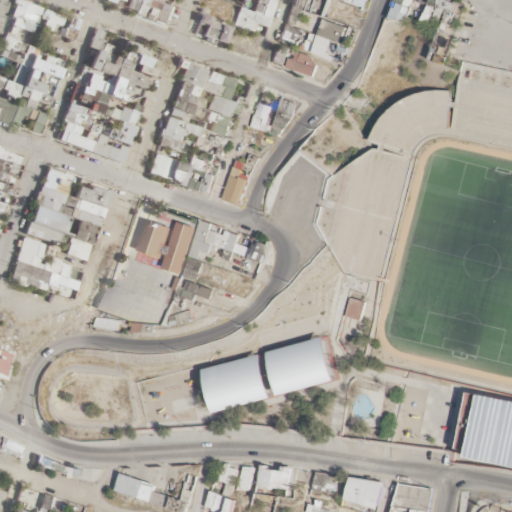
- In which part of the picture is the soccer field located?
right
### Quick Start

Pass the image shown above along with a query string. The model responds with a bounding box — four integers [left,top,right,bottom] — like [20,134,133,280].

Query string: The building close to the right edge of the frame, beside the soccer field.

[452,391,512,468]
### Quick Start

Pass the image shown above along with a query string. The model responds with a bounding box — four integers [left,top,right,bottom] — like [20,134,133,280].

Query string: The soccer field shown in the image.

[388,150,512,376]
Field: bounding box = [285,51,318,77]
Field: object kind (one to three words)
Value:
house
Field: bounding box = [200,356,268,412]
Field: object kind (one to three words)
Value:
building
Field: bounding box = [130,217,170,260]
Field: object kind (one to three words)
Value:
building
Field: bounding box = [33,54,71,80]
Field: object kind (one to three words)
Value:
house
